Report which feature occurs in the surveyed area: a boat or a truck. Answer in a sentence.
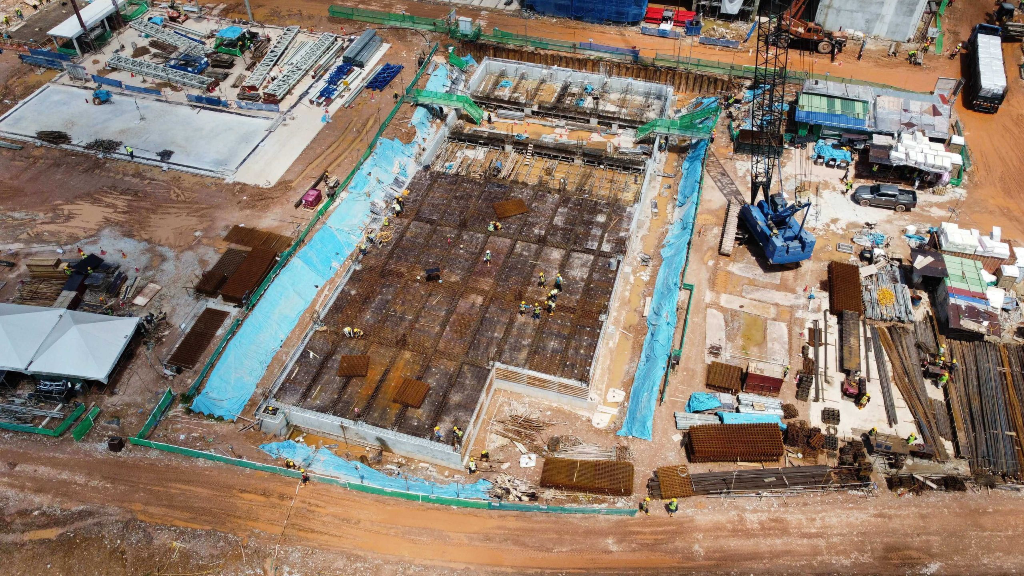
It is a truck that can be seen here.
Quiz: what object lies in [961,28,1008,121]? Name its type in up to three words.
truck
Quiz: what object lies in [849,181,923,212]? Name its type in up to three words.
truck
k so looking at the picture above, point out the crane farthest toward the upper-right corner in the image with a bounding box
[764,0,855,58]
